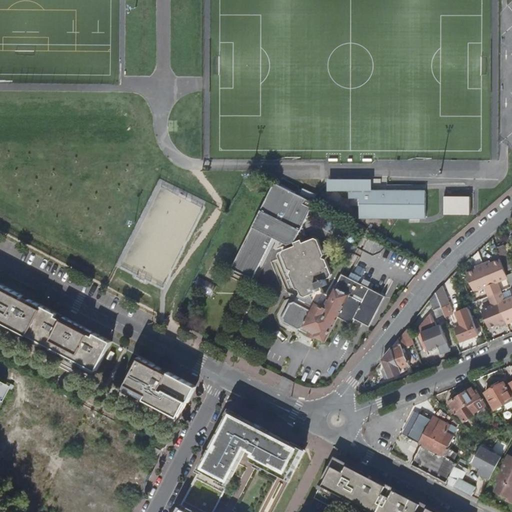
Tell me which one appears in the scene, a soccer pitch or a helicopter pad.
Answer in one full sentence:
Of the two, only a soccer pitch appears.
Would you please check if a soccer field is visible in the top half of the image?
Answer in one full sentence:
Yes, the scene does show a soccer field in the top half of the image.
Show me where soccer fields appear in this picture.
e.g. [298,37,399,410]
[0,0,120,84]
[210,0,490,159]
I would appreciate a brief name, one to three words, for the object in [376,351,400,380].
house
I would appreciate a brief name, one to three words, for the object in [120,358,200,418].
building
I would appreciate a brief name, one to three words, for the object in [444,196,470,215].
shed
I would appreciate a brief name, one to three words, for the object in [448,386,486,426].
house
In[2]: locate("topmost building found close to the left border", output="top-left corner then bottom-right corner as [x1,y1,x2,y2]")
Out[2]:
[0,280,114,372]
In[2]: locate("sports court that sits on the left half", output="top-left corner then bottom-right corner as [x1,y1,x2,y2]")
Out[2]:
[116,179,205,288]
